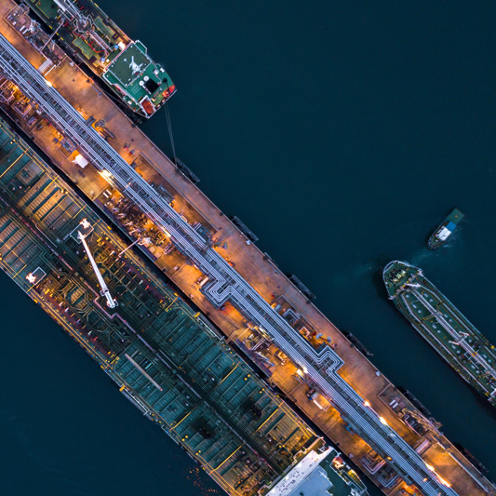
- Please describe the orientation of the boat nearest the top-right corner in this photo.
at an angle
